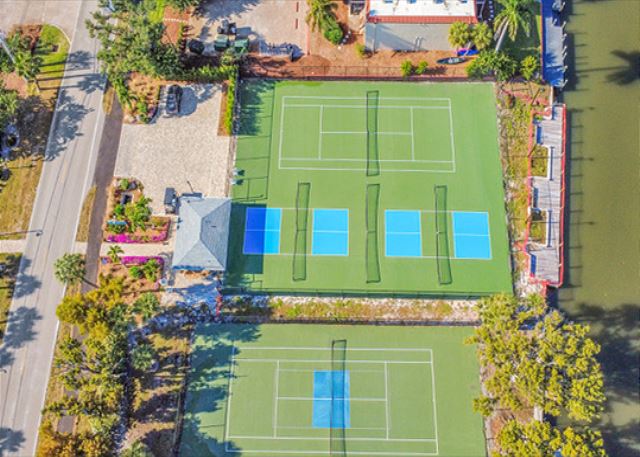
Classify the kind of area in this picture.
sports ground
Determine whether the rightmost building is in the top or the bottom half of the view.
top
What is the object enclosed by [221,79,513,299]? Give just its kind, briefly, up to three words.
tennis court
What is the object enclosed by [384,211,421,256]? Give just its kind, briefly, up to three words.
sports court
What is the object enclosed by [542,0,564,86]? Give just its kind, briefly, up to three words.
pier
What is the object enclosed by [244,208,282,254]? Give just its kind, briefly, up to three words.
sports court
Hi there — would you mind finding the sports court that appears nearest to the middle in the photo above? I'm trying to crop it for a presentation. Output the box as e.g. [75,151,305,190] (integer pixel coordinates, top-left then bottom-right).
[312,209,349,255]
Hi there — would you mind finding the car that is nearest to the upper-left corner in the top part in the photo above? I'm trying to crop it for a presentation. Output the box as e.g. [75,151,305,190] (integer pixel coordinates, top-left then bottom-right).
[161,84,181,114]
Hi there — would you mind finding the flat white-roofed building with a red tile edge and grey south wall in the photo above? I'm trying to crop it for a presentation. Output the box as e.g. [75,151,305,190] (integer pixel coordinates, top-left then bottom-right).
[360,0,475,56]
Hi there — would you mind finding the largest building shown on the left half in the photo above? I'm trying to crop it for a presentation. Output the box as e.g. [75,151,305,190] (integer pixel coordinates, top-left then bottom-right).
[171,197,234,271]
